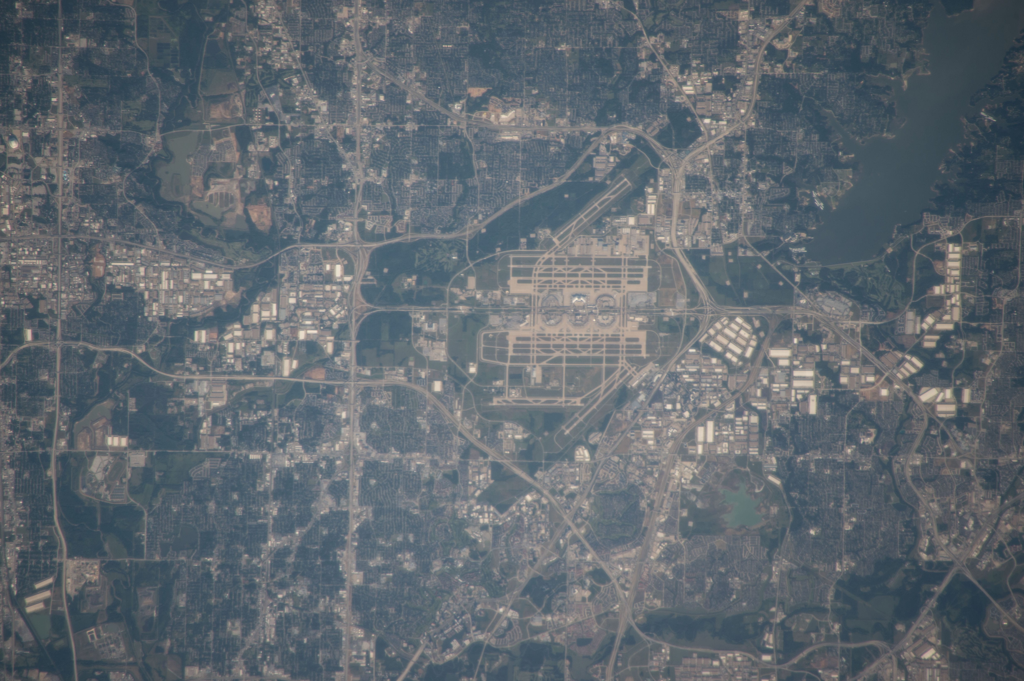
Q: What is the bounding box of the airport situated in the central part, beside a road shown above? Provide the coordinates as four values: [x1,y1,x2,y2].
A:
[481,179,661,449]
